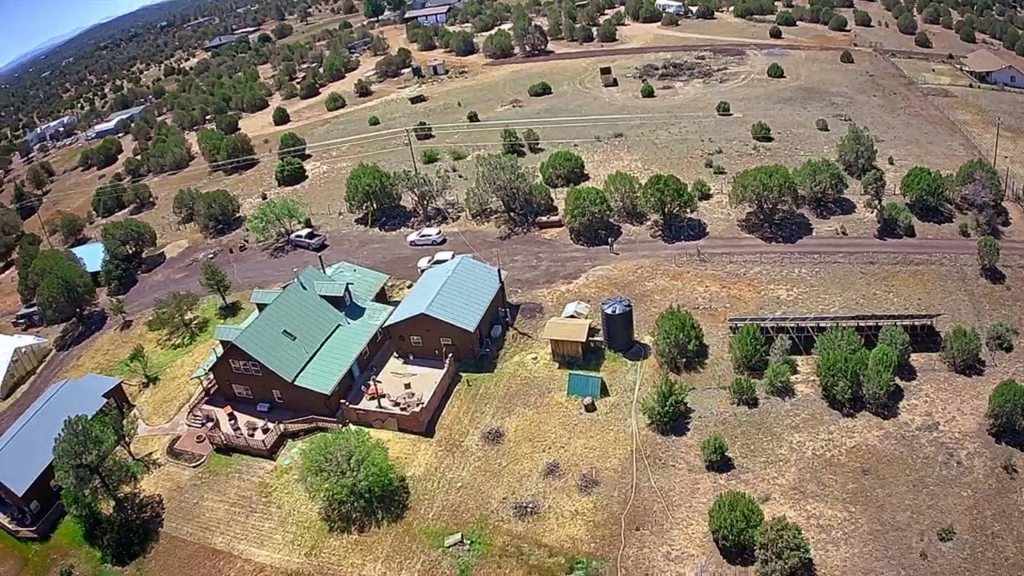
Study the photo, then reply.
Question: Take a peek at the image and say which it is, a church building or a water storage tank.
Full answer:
I can see a water storage tank in this picture.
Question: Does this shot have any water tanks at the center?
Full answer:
Yes, a water tank is visible at the center.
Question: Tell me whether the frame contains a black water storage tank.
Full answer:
Yes, a black water storage tank appears in the view.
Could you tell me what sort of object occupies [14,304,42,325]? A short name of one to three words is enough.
truck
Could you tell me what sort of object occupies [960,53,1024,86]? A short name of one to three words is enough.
house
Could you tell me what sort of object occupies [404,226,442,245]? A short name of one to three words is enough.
car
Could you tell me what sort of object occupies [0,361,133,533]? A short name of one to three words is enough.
building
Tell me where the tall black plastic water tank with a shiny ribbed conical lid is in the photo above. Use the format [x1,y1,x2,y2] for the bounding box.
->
[601,305,635,357]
